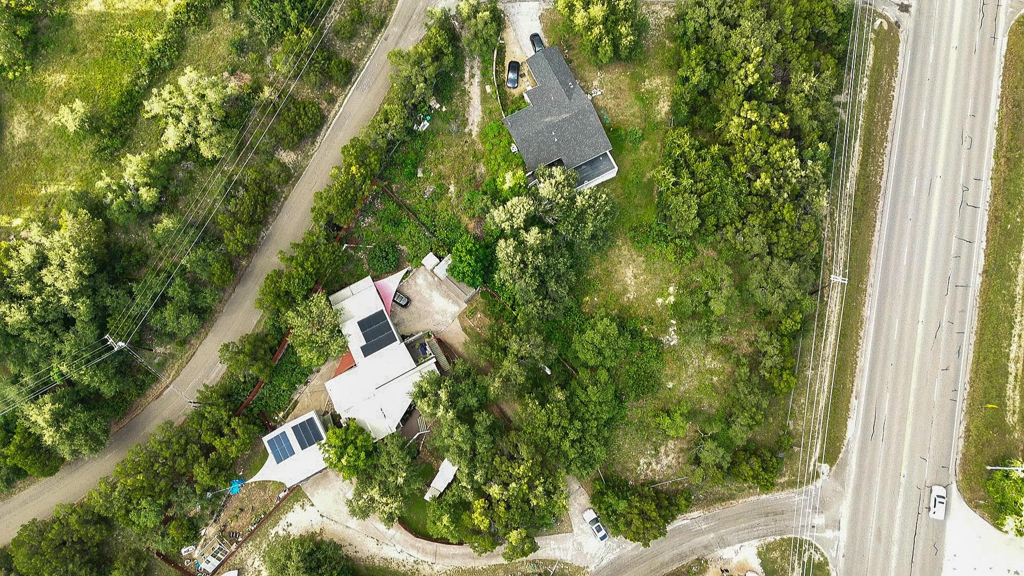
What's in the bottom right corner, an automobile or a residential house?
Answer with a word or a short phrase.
automobile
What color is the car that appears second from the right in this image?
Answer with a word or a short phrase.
white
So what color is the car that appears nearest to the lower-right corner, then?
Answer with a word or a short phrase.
white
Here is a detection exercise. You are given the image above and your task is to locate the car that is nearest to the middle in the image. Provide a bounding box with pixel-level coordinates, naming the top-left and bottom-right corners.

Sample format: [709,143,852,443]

[392,289,414,311]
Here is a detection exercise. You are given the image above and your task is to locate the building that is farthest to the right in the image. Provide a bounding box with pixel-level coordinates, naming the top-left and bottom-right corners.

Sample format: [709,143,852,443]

[502,46,618,190]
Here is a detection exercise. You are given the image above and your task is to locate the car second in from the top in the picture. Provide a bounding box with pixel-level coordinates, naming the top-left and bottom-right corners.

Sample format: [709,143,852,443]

[505,60,520,89]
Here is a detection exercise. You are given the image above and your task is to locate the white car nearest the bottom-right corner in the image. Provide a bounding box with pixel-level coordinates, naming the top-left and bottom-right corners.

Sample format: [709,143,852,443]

[927,486,949,519]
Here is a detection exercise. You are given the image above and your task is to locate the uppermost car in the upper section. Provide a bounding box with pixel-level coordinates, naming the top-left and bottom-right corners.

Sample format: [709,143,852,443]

[530,31,548,55]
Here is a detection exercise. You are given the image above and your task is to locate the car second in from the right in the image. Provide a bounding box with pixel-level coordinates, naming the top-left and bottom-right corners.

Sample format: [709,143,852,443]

[585,508,607,542]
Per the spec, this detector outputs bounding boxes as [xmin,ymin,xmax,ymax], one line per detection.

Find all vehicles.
[392,289,414,311]
[530,31,548,55]
[927,486,949,519]
[585,508,607,542]
[505,60,520,89]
